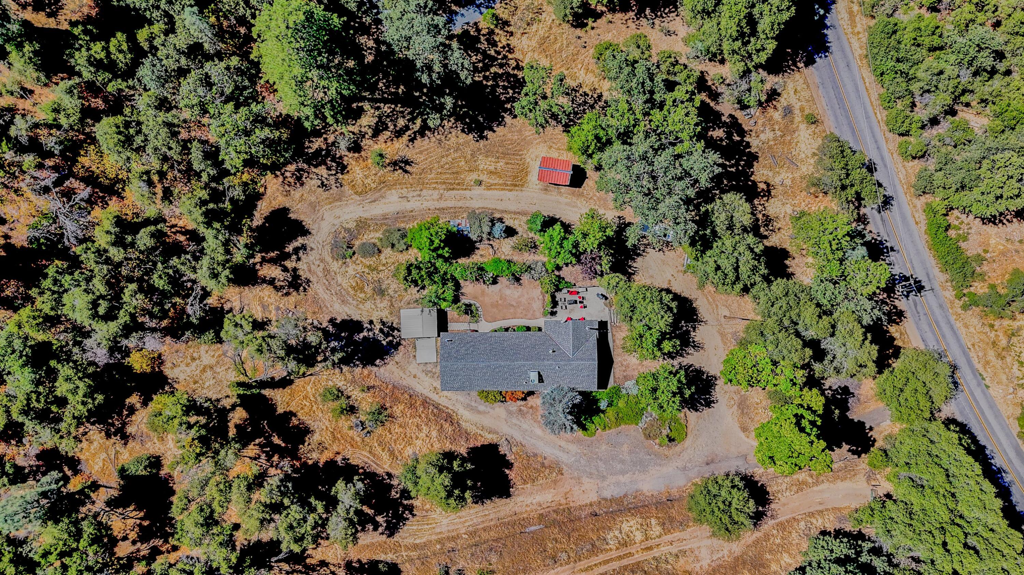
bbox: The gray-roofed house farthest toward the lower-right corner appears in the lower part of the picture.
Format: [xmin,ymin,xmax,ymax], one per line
[439,319,599,391]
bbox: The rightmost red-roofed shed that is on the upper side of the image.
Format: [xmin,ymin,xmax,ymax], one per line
[537,156,573,185]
